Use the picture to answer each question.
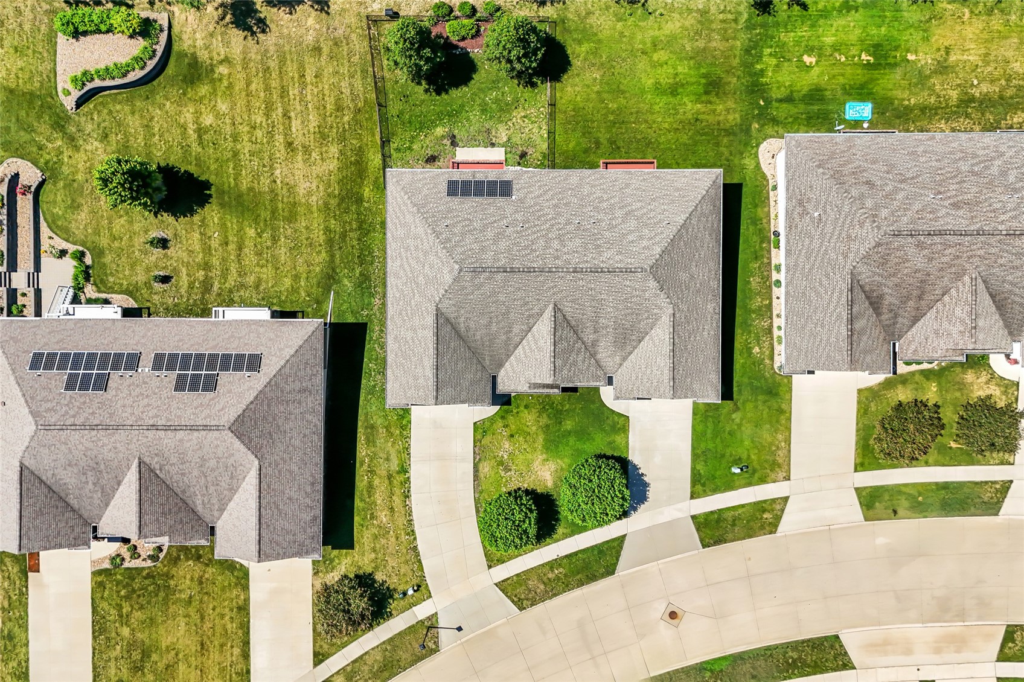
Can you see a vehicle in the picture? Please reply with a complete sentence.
No, no vehicle is visible in the scene.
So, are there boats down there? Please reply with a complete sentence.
No, I find no boat anywhere in the image.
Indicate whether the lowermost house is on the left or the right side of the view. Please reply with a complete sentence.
The lowermost house appears in the left half of the scene.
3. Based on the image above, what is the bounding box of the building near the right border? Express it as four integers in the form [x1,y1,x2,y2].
[772,132,1024,376]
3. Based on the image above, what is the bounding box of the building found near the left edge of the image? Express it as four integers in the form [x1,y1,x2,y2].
[0,318,329,565]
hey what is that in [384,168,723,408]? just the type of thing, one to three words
house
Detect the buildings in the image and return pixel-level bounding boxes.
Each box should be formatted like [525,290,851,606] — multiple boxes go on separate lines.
[0,318,329,565]
[772,132,1024,376]
[384,168,723,408]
